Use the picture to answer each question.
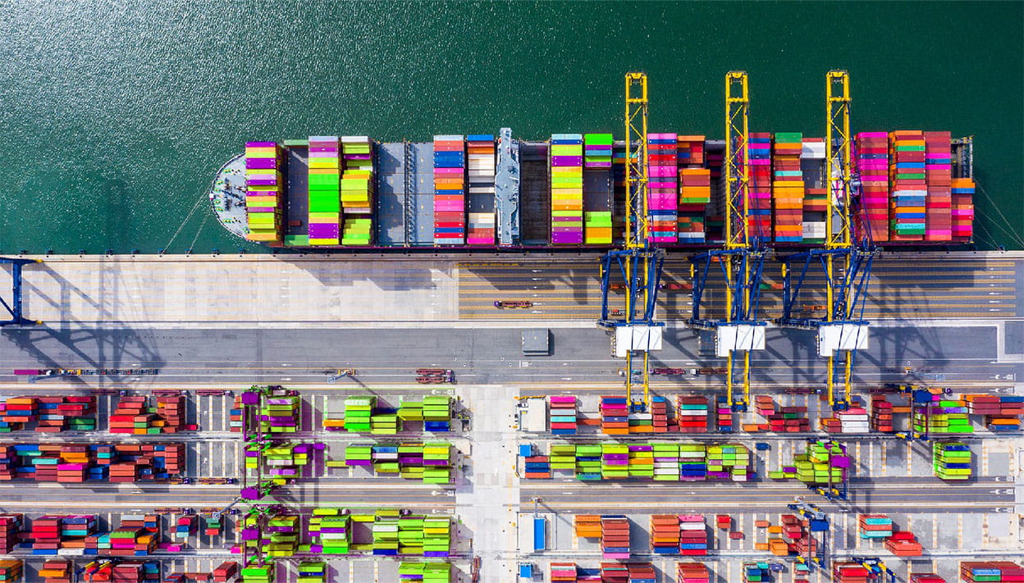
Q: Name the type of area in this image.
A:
port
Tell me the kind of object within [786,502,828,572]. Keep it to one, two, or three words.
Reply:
container crane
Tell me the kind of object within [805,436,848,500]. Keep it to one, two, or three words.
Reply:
container crane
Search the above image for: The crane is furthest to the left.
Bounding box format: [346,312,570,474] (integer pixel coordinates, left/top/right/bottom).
[0,257,44,329]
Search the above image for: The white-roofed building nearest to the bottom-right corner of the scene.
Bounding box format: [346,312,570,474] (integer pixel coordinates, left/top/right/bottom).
[519,398,546,431]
